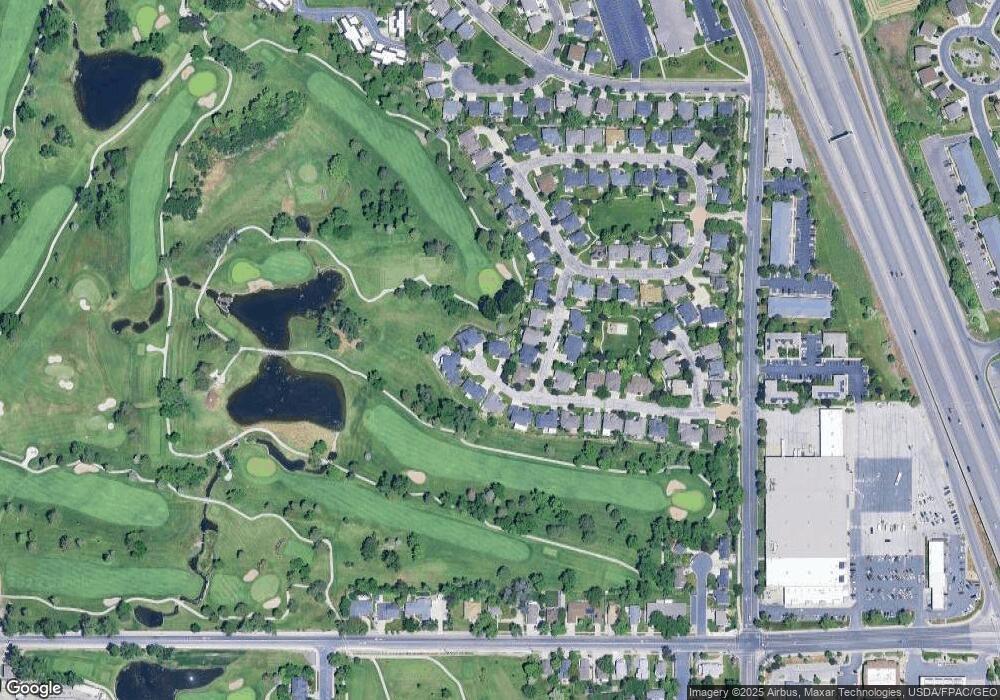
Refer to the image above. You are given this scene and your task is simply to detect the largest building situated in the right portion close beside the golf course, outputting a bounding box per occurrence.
[766,457,847,558]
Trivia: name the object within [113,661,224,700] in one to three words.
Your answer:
pond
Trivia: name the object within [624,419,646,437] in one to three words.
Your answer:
house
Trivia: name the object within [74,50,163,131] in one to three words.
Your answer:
pond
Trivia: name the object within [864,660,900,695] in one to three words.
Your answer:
building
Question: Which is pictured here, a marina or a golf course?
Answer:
golf course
